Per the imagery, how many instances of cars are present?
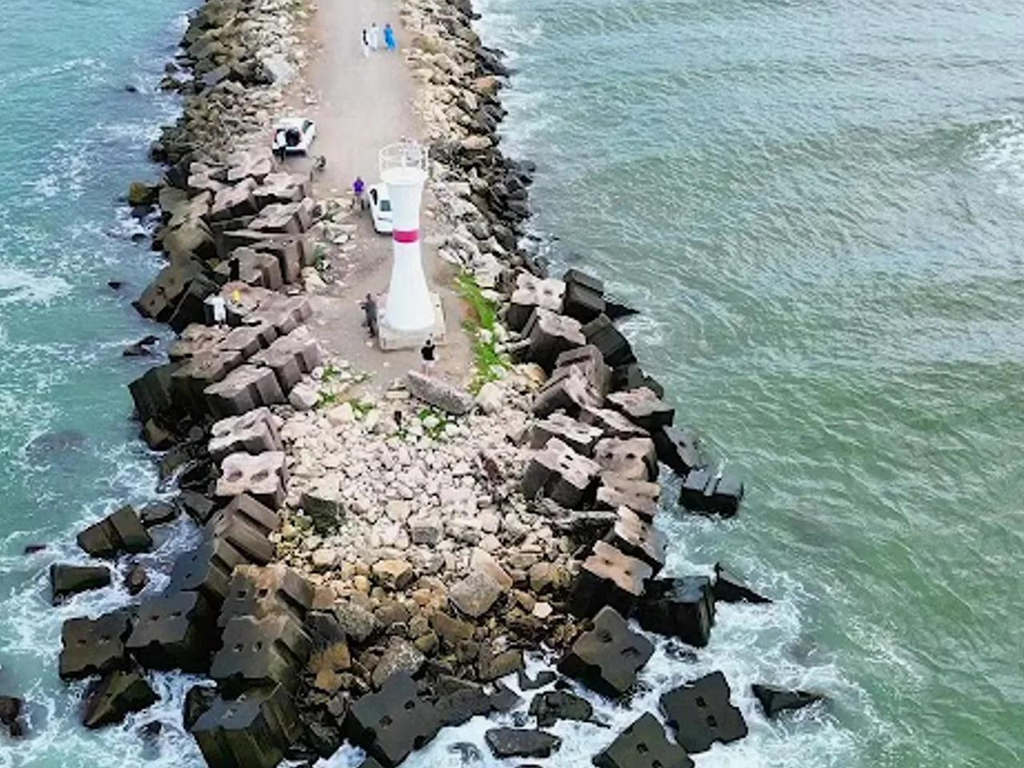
2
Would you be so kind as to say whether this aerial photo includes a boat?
No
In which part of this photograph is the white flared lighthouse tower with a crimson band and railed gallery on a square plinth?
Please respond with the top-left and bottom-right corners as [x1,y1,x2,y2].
[377,132,444,352]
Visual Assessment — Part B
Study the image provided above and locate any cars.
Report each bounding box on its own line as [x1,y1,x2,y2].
[270,114,322,157]
[371,187,395,236]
